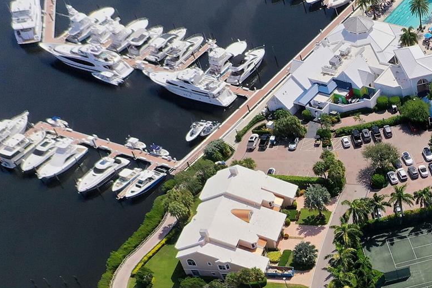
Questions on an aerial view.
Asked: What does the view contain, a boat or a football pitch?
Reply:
boat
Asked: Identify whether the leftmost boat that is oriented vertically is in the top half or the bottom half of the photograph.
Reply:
top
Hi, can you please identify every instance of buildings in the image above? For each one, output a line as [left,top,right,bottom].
[176,164,301,285]
[278,11,413,114]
